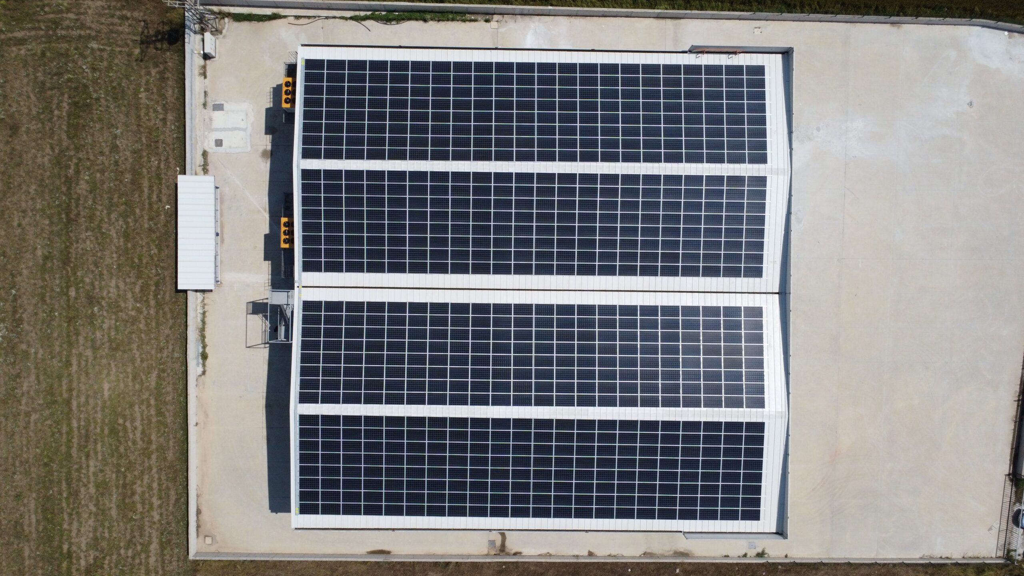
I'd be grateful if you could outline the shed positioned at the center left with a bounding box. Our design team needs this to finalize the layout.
[177,175,223,290]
